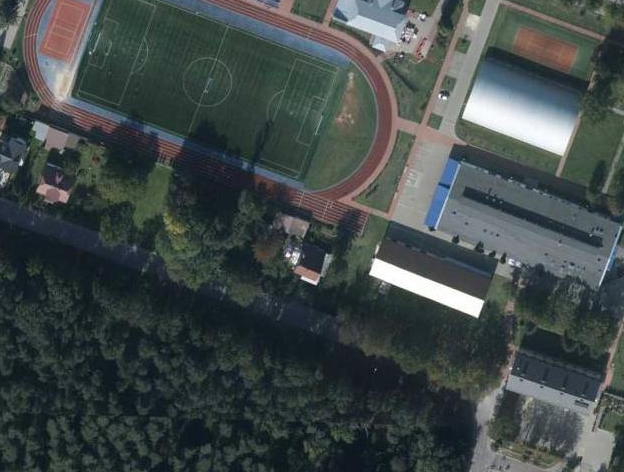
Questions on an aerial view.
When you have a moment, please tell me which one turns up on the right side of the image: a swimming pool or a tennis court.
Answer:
tennis court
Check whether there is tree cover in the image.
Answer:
Yes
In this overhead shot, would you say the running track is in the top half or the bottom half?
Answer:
top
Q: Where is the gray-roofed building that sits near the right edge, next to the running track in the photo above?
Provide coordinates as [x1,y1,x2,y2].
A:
[425,158,623,287]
